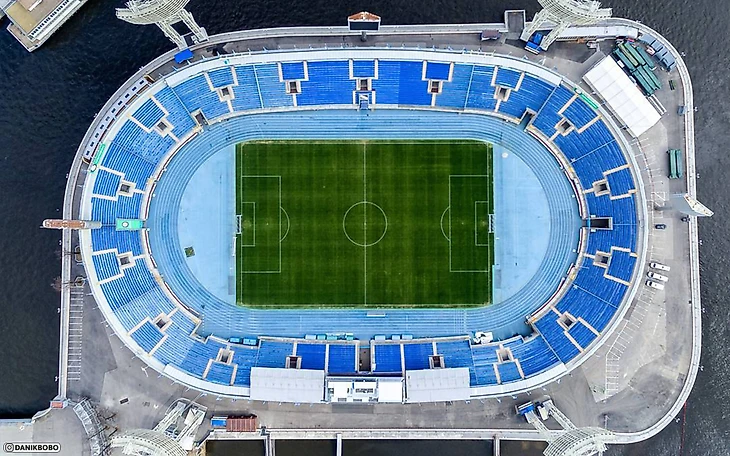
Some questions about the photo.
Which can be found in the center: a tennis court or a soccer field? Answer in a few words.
soccer field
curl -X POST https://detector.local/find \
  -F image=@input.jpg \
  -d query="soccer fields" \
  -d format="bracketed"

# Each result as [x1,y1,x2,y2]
[235,139,493,310]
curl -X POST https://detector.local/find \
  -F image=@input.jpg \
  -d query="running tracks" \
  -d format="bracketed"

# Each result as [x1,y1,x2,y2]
[143,110,587,345]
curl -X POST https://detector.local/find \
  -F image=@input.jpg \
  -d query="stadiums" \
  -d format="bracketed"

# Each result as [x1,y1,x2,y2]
[74,42,654,408]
